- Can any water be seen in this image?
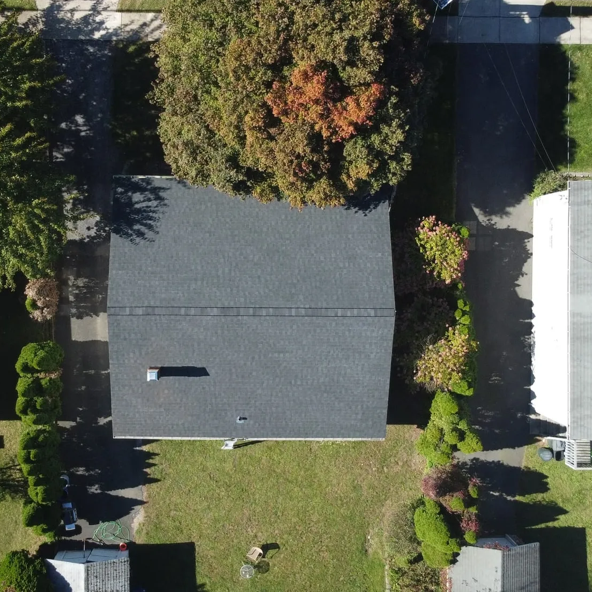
No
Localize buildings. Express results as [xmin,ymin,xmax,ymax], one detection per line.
[46,544,133,592]
[442,533,540,592]
[106,174,396,449]
[534,179,592,442]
